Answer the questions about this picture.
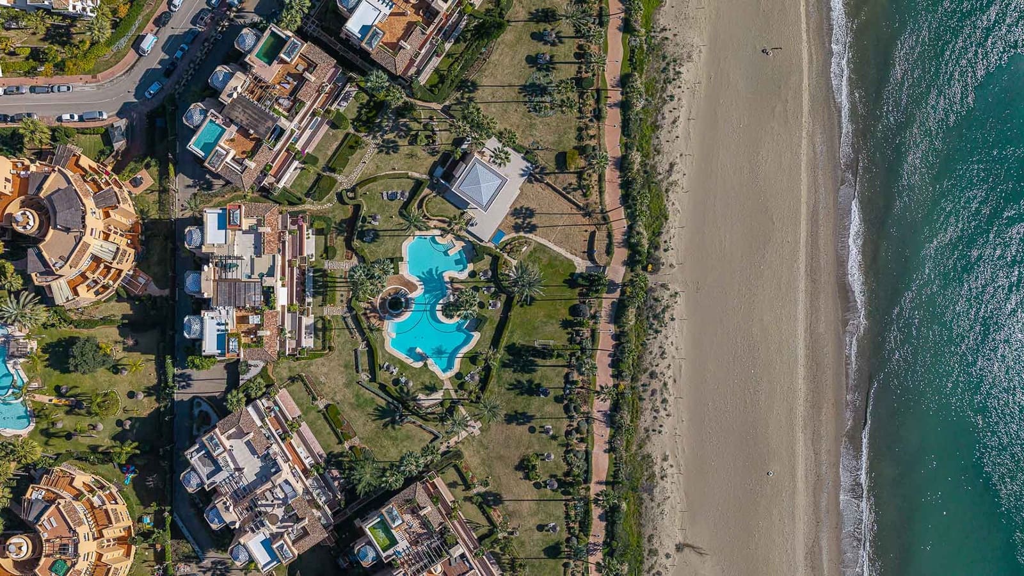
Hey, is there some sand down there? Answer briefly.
Yes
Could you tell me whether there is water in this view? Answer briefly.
Yes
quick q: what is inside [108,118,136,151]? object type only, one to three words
building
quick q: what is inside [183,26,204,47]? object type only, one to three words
car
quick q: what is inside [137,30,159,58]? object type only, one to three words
vehicle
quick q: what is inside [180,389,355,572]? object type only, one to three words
building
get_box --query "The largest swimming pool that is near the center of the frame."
[382,230,480,379]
